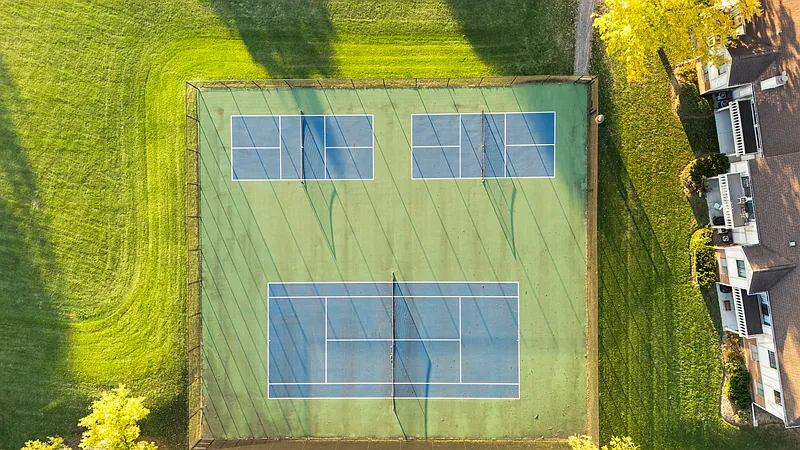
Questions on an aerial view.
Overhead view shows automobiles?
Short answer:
No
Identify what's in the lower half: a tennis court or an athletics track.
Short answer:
tennis court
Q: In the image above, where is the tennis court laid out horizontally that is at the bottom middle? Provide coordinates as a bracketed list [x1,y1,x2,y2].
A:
[267,281,520,400]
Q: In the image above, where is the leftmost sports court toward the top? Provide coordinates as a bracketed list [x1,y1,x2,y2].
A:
[230,114,374,180]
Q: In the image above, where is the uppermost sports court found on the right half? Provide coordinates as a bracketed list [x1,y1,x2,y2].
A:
[411,111,556,179]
